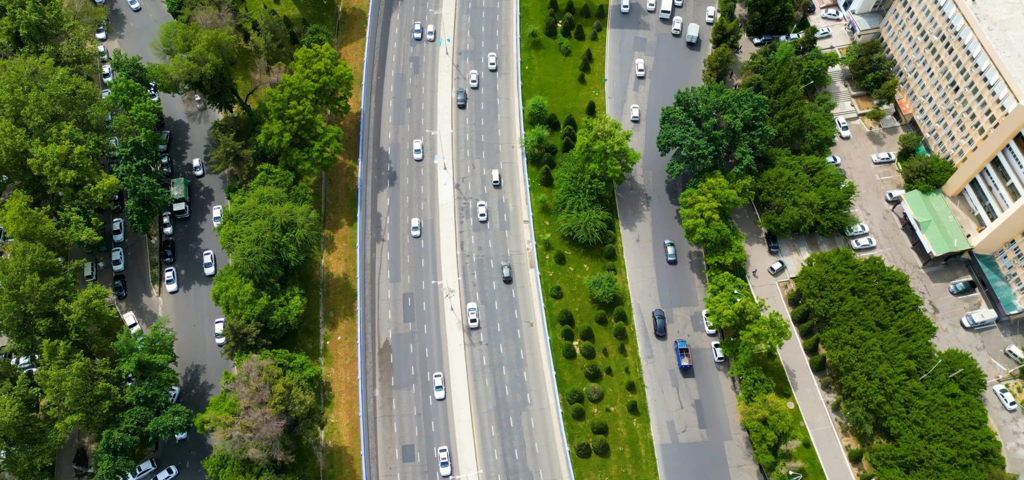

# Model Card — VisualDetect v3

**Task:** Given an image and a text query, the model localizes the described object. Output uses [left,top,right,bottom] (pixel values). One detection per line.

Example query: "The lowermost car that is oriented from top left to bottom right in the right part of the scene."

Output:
[991,383,1019,413]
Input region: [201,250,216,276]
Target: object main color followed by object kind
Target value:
white car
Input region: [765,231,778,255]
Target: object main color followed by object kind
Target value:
black vehicle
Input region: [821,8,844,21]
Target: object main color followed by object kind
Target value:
white vehicle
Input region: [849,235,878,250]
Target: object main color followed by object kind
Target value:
white car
